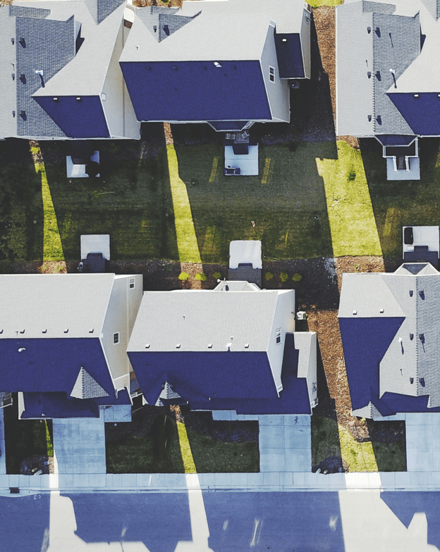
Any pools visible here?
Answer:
No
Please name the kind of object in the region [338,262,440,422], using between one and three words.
house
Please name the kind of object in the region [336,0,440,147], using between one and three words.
house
